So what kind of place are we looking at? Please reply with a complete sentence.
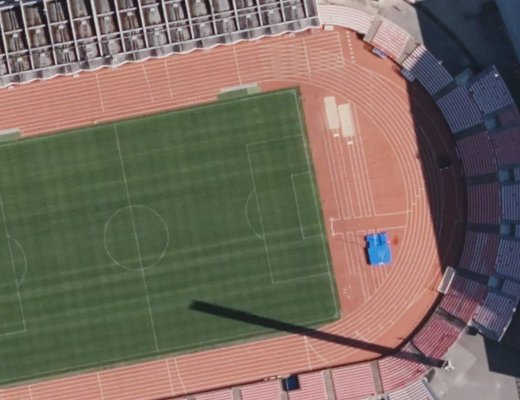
This looks like a sports ground.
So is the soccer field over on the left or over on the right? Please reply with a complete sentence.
The soccer field appears in the left half of the scene.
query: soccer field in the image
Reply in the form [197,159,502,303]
[0,85,345,390]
